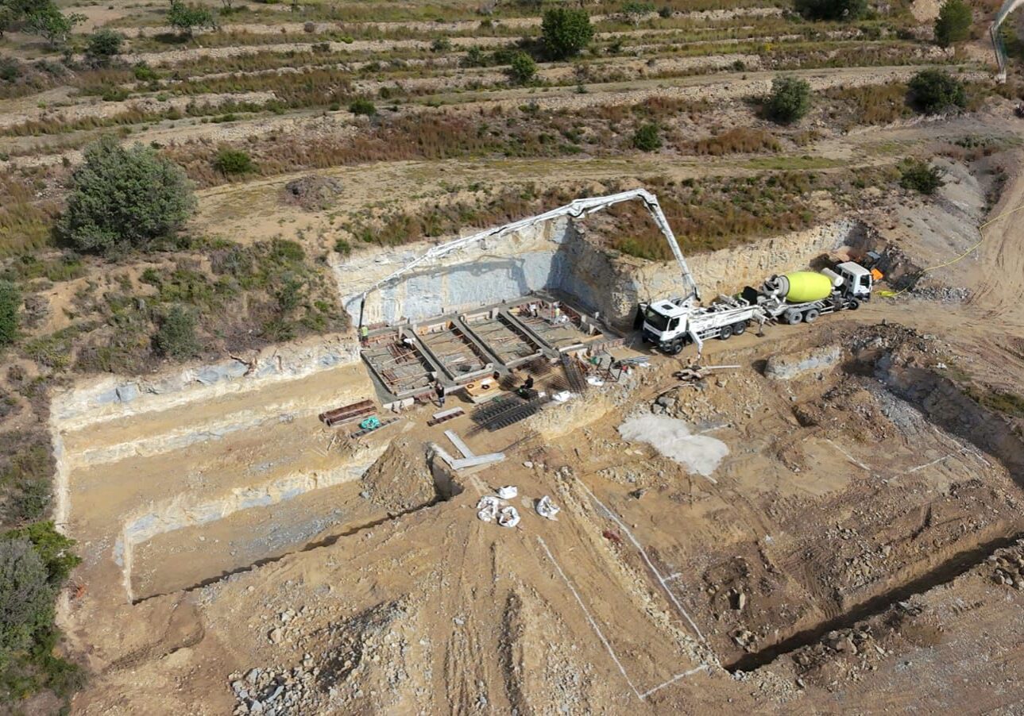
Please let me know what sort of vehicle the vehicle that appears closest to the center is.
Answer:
truck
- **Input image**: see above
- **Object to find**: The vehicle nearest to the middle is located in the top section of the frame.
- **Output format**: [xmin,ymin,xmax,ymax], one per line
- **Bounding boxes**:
[359,187,771,362]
